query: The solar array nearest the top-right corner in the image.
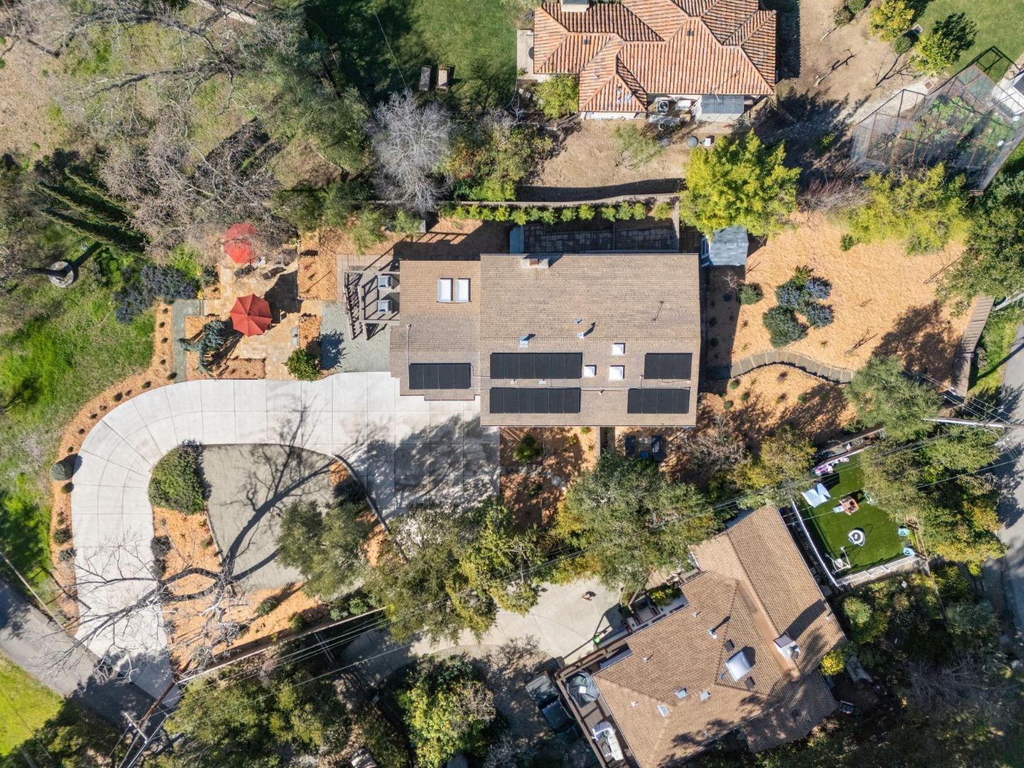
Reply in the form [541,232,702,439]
[645,353,692,380]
